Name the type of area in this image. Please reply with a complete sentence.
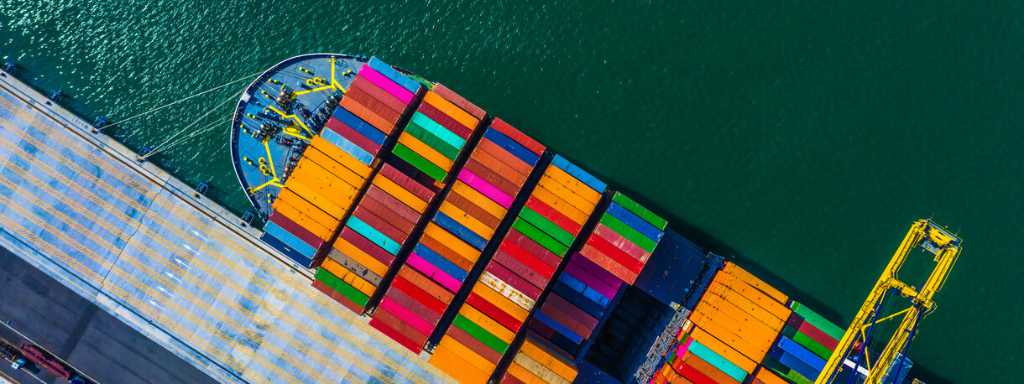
It's a port.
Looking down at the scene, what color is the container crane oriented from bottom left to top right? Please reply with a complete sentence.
From above, the container crane oriented from bottom left to top right appears yellow.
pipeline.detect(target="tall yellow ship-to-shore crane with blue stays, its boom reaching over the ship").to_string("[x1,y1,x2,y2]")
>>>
[816,210,966,384]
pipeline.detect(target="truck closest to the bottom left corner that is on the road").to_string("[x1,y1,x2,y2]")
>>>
[0,346,28,371]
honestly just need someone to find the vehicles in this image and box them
[21,346,88,384]
[0,346,28,371]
